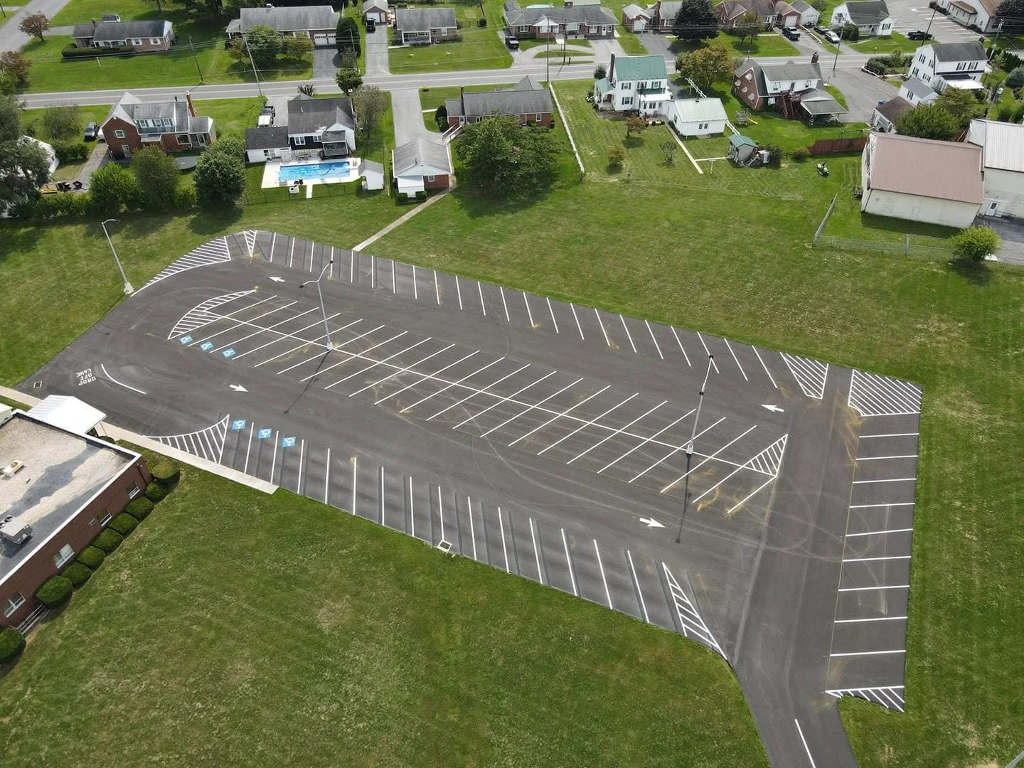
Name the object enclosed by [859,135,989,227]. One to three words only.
barn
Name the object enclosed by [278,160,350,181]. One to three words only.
swimming pool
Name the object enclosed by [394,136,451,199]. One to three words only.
building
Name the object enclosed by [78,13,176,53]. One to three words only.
house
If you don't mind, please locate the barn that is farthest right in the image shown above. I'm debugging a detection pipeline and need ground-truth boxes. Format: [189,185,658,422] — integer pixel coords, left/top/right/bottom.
[968,127,1024,225]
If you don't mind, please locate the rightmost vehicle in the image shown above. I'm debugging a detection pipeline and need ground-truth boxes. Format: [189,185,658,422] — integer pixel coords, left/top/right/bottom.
[906,27,936,39]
